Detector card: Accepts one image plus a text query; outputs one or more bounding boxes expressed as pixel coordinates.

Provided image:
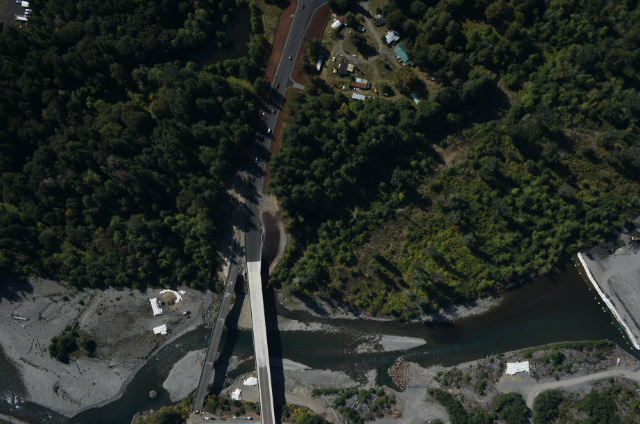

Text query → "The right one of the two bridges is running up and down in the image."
[248,262,276,424]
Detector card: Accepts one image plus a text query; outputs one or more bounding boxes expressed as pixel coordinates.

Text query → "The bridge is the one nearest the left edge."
[194,258,240,412]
